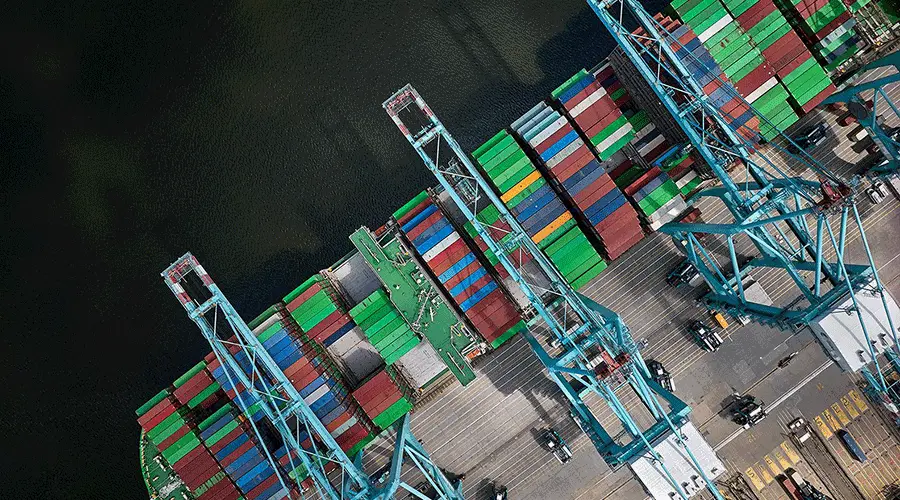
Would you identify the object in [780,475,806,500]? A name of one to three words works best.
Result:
shipping container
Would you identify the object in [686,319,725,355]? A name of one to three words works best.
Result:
work vehicle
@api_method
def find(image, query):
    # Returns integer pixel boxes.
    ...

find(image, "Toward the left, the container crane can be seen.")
[154,248,468,500]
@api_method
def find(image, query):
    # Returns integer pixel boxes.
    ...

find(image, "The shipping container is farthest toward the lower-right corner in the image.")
[838,429,869,463]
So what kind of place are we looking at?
port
